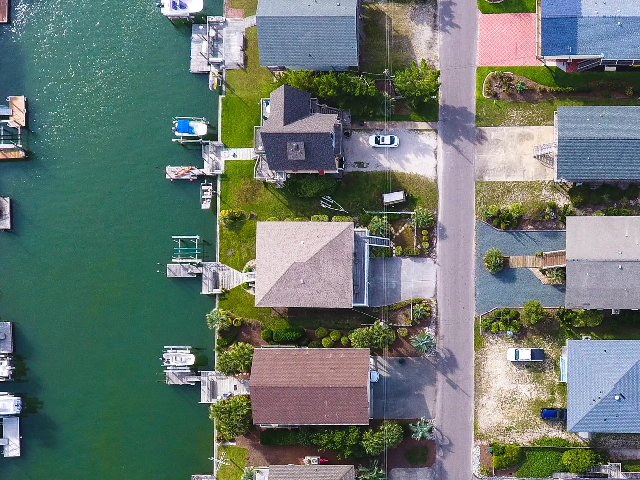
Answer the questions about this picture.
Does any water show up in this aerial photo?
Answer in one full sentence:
Yes, water can be seen from above here.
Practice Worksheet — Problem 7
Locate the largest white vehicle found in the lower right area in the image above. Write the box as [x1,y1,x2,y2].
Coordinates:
[506,347,544,363]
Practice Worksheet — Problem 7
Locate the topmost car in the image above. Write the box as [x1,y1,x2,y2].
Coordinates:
[368,135,400,148]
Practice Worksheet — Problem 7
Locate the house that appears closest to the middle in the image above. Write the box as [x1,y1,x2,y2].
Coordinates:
[239,221,390,306]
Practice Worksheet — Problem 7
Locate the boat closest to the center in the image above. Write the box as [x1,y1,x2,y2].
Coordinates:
[200,180,213,208]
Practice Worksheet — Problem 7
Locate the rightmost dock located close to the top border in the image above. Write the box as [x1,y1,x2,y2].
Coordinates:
[188,14,256,74]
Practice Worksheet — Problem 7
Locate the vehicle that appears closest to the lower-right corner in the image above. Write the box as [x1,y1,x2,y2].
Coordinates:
[541,407,567,421]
